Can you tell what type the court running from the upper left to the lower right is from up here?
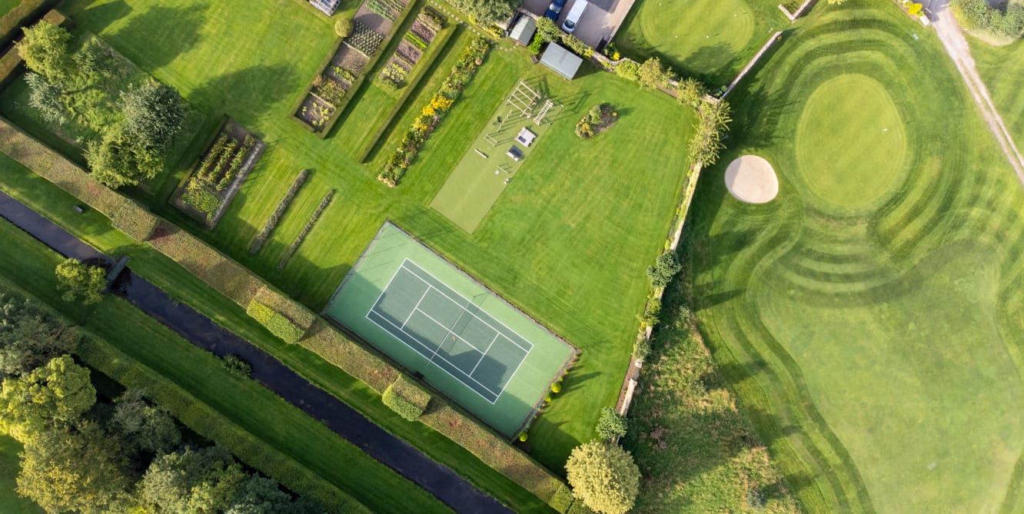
tennis court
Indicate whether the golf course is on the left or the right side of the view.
right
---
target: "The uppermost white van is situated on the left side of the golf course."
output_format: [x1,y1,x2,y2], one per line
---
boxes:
[563,0,591,31]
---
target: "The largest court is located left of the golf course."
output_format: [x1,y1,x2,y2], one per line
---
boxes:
[324,221,577,440]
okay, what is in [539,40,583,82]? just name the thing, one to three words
shed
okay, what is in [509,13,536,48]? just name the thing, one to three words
shed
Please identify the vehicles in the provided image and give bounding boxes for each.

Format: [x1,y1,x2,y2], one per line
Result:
[563,0,591,31]
[548,0,570,20]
